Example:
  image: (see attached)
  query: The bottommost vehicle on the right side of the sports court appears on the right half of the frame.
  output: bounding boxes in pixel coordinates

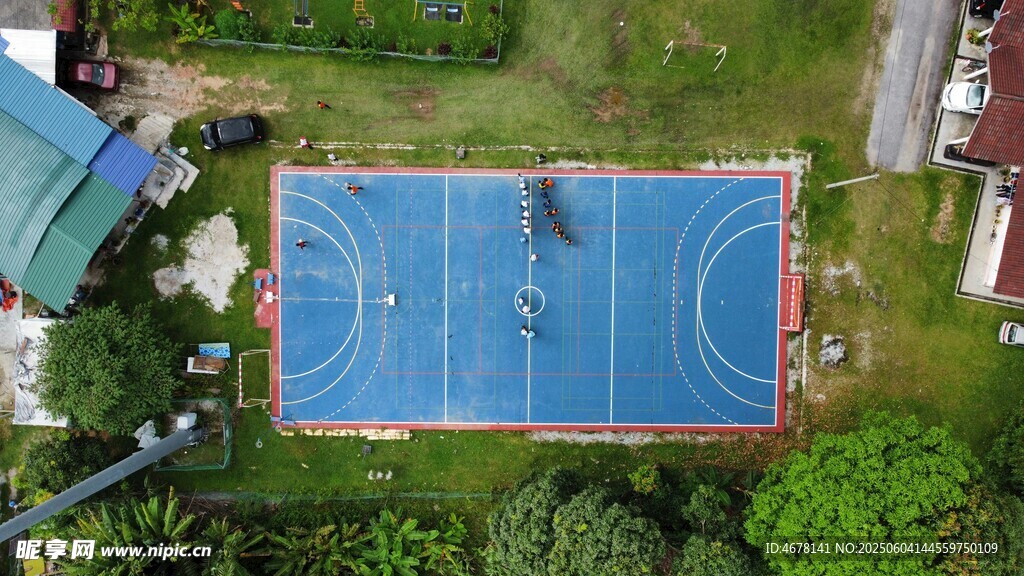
[990,318,1024,349]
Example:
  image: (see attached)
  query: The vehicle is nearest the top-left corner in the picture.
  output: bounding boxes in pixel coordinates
[58,56,124,92]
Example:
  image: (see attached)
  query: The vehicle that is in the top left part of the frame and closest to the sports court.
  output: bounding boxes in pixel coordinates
[197,114,267,152]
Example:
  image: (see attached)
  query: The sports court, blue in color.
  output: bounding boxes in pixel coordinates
[255,166,805,432]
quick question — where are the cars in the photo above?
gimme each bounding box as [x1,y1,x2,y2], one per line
[197,114,267,152]
[58,56,124,92]
[971,0,1004,26]
[939,135,1006,178]
[939,79,991,115]
[990,318,1024,349]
